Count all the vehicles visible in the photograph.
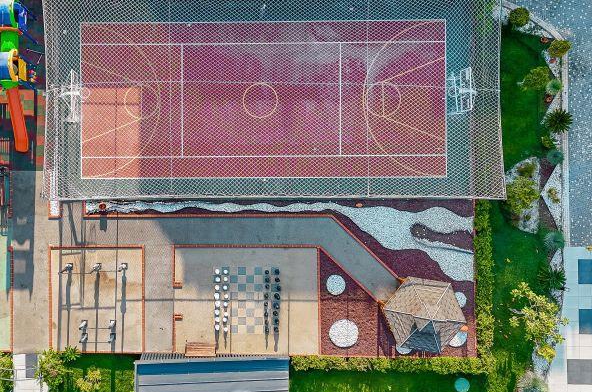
0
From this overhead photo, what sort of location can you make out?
sports ground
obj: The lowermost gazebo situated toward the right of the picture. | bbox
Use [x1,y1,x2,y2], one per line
[378,277,466,354]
